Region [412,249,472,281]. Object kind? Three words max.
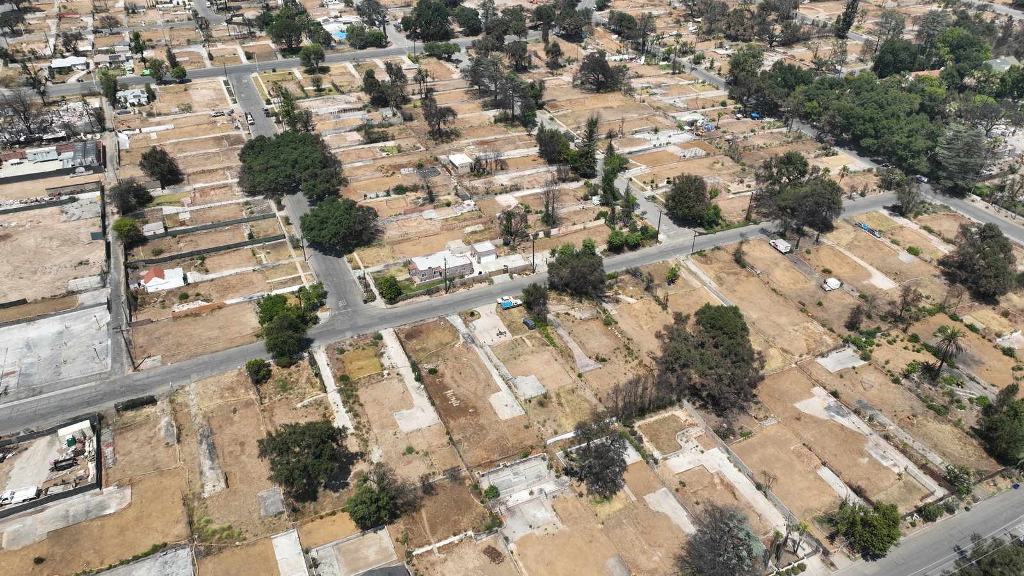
house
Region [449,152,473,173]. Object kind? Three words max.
building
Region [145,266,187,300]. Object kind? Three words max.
house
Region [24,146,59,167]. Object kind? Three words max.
shed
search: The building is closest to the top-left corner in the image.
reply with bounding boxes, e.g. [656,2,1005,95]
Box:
[52,58,88,75]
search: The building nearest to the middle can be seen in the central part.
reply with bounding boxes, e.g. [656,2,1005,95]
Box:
[472,239,496,260]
